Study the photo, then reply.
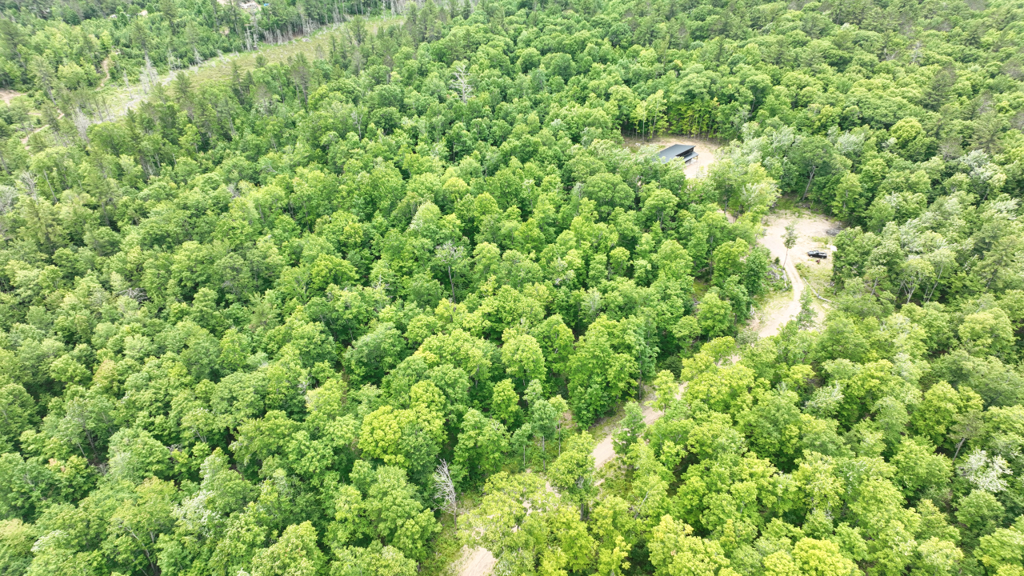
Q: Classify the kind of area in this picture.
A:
forest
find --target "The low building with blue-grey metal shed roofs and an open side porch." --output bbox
[644,143,700,167]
